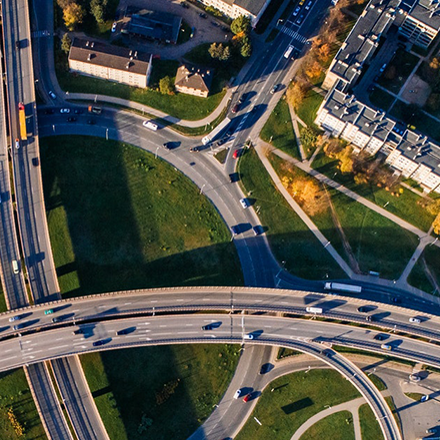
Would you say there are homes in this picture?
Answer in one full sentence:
Yes, there is a home in the image.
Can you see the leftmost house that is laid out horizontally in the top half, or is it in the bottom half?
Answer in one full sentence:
The top half of the photo is where the leftmost house that is laid out horizontally is.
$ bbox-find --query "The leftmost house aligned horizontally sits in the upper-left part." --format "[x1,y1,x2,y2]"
[69,37,153,84]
